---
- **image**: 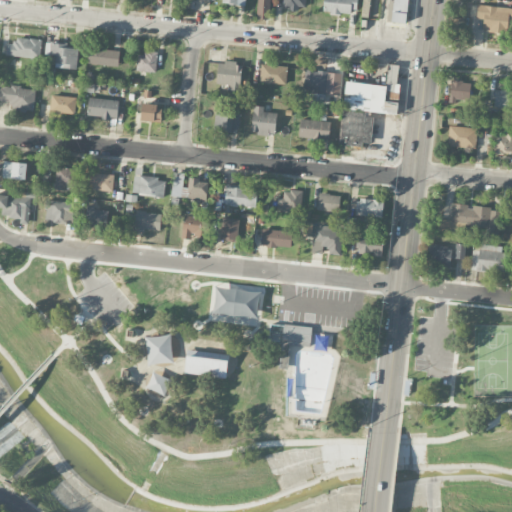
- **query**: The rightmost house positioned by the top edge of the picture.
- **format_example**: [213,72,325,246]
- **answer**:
[478,3,512,32]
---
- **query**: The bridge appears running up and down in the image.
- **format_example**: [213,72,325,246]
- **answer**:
[359,432,401,512]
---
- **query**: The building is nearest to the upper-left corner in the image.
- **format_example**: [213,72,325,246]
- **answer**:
[10,37,42,58]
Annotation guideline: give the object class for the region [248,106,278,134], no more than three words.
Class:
house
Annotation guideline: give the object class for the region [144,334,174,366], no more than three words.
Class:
building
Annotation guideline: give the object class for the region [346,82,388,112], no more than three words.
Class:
building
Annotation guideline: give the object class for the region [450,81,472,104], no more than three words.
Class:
house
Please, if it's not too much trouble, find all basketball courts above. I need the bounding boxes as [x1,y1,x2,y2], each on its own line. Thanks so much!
[474,324,512,397]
